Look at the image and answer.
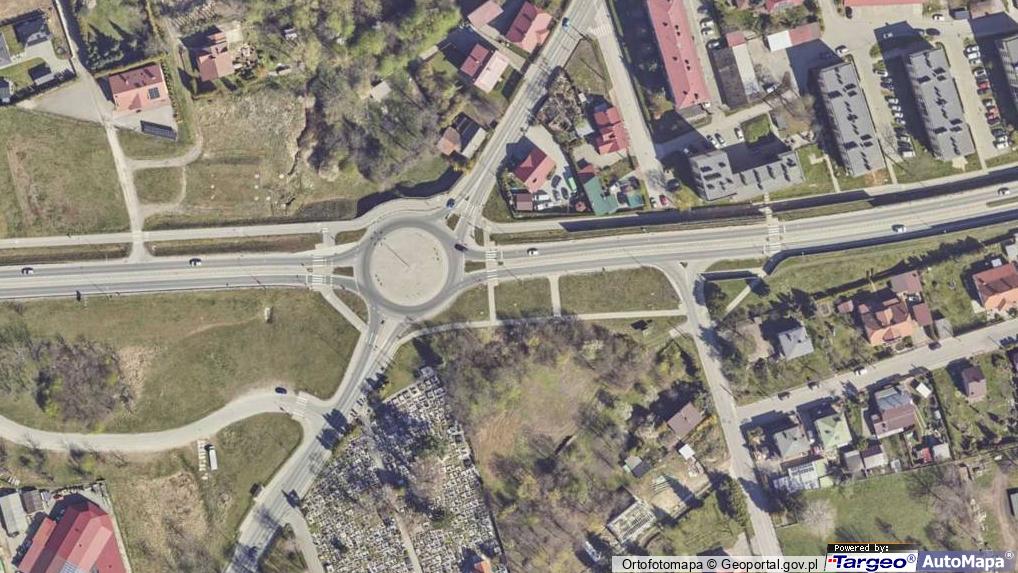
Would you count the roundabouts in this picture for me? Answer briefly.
1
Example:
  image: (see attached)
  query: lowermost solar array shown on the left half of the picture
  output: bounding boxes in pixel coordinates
[141,120,176,140]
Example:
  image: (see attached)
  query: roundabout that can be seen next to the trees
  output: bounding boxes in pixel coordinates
[355,213,461,319]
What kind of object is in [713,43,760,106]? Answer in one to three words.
barn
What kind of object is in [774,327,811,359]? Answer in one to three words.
house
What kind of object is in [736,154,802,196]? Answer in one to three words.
building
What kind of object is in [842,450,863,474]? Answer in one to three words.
shed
